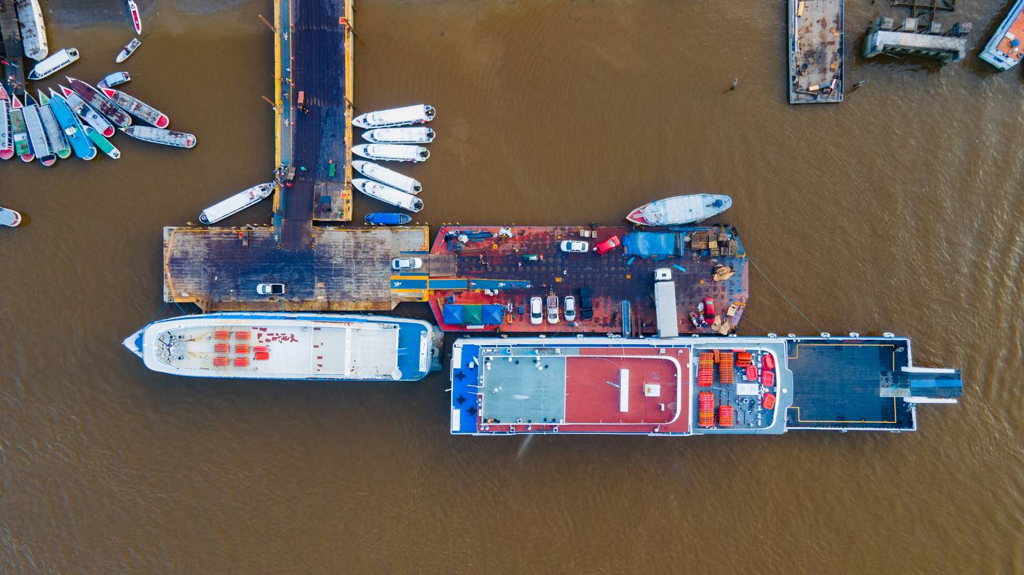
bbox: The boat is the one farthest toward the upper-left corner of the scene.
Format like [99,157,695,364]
[19,0,51,61]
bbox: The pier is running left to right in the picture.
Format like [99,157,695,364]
[164,226,429,310]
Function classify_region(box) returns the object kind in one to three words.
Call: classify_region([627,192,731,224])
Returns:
boat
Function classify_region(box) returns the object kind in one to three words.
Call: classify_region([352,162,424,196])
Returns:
boat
